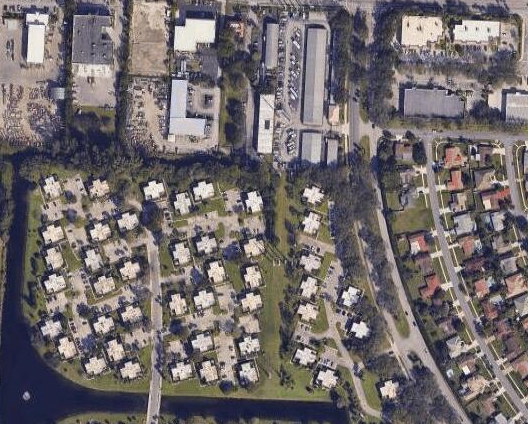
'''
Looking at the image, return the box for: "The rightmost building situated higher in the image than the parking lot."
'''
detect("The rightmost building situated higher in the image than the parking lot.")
[454,21,501,42]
